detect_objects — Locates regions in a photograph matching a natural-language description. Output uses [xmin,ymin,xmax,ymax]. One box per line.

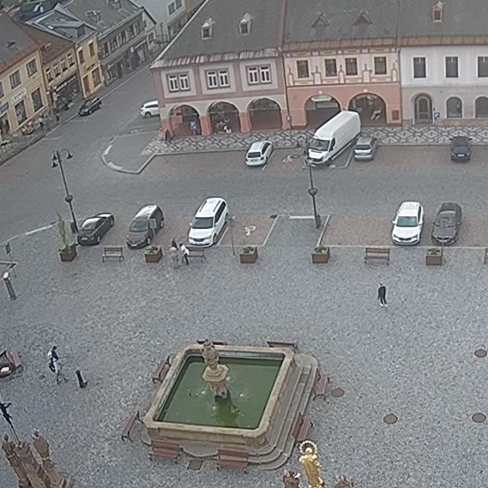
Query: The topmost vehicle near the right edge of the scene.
[449,137,472,163]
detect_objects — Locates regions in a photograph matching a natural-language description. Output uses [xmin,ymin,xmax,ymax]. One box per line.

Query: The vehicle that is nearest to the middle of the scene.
[187,198,232,245]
